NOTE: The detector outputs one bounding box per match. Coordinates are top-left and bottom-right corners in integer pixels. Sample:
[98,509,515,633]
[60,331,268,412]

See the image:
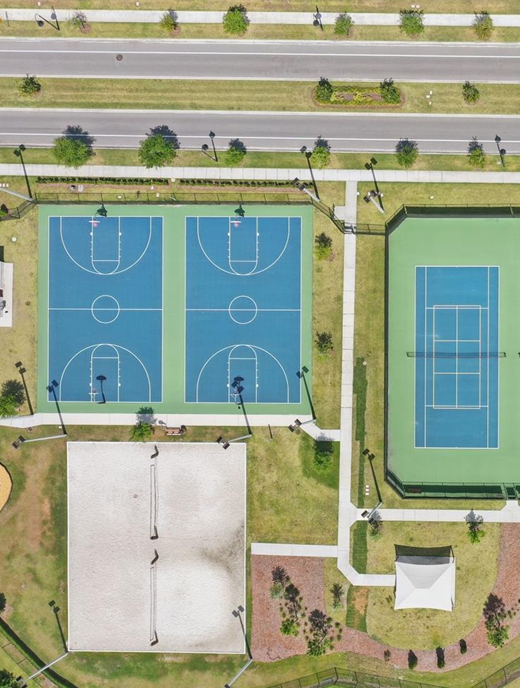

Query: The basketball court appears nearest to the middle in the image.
[174,204,312,414]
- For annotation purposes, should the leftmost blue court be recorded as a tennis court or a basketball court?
basketball court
